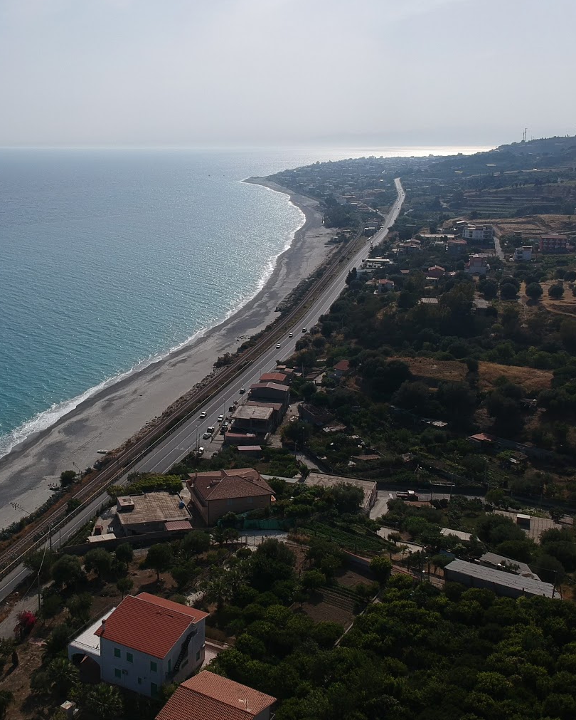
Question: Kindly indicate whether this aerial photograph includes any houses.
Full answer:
Yes, you can see a house in this photo.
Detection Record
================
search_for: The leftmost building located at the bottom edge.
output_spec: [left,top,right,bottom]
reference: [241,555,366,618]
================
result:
[72,595,202,701]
